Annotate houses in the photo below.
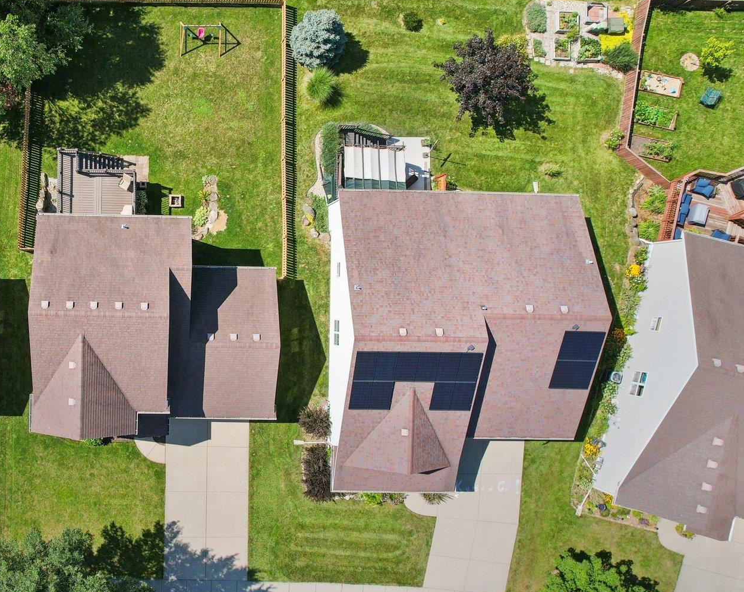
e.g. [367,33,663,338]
[298,184,618,492]
[579,231,744,541]
[25,212,282,441]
